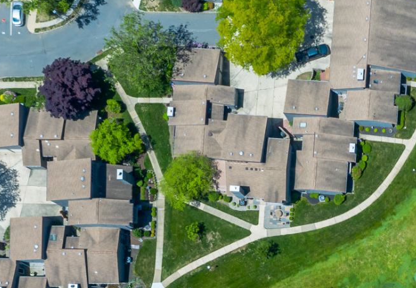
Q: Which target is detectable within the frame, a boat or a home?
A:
home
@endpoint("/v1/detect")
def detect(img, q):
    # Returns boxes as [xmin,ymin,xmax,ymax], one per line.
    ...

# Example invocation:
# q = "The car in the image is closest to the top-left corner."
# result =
[12,1,26,28]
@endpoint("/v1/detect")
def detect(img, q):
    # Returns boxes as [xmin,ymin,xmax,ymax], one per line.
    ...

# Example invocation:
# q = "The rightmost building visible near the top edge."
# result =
[329,0,416,98]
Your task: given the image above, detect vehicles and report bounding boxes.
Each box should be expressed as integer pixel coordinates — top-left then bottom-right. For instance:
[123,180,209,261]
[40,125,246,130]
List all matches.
[295,45,331,63]
[12,1,26,28]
